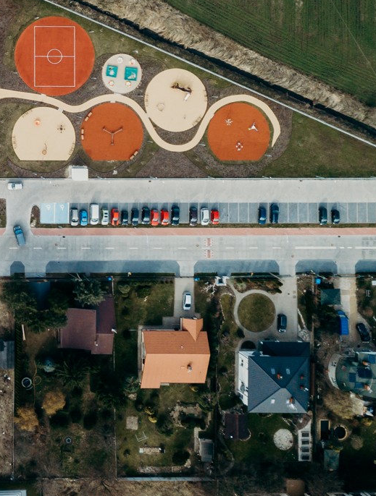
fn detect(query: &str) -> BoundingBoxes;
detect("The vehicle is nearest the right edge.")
[358,323,371,343]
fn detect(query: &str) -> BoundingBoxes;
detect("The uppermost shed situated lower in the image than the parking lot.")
[316,287,341,306]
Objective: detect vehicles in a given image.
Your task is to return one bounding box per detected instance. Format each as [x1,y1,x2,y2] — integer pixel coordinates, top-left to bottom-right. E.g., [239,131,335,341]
[211,210,220,226]
[112,209,121,226]
[15,227,27,247]
[81,210,90,226]
[319,208,330,226]
[183,292,193,311]
[131,210,140,226]
[202,209,211,226]
[278,316,288,332]
[101,209,111,226]
[271,205,281,224]
[190,209,200,226]
[91,204,101,226]
[358,323,371,343]
[339,315,353,337]
[121,210,131,227]
[172,206,181,225]
[151,210,161,226]
[8,182,24,191]
[161,210,170,226]
[258,209,269,225]
[332,210,341,226]
[72,209,81,225]
[142,208,151,225]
